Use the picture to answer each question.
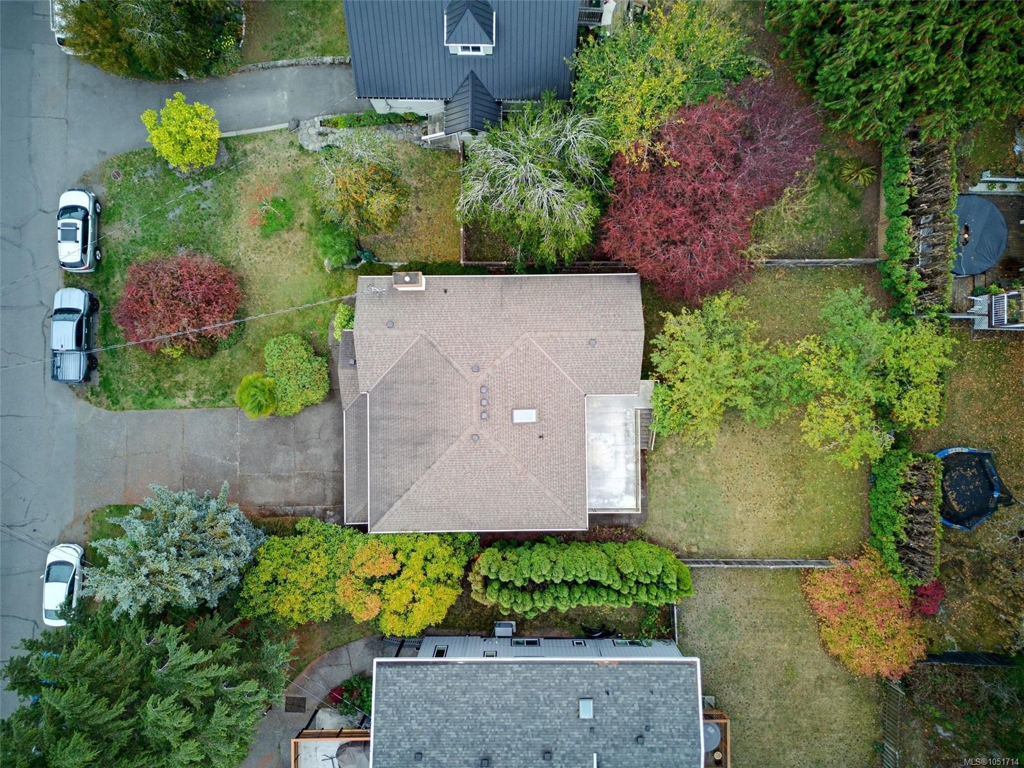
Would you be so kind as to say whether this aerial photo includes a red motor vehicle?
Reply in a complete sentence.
No, no red motor vehicle is visible in the view.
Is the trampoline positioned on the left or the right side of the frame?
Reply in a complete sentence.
You can find the trampoline on the right side of the picture.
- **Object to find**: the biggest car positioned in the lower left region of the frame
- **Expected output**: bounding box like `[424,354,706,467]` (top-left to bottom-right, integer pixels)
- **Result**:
[42,543,90,629]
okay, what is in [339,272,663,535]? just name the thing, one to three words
house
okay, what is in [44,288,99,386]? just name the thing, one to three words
truck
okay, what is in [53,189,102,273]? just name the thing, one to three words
car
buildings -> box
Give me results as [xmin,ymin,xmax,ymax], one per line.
[367,635,707,768]
[344,0,576,162]
[339,272,663,535]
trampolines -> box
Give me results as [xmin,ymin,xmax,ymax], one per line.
[927,447,1024,531]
